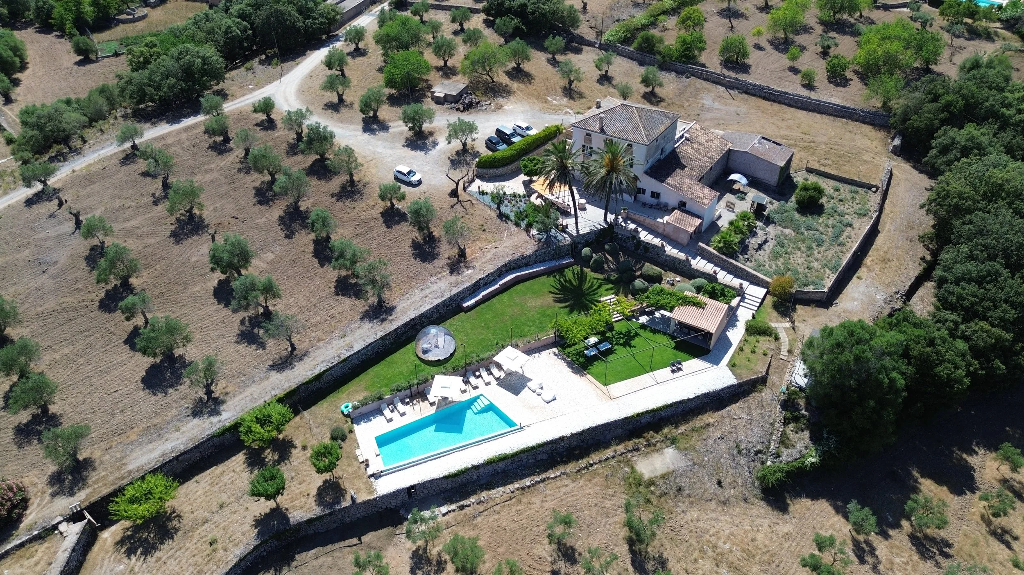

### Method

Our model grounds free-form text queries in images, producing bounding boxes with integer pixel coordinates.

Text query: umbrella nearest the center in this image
[493,340,530,375]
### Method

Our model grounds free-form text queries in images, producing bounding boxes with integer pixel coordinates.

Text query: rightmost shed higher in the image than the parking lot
[430,76,464,104]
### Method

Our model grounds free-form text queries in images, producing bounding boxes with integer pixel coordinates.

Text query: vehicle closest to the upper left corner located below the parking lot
[391,169,422,186]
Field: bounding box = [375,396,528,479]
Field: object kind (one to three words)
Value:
swimming pool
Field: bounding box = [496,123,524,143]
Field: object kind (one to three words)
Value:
car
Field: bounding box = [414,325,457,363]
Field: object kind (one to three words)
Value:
tent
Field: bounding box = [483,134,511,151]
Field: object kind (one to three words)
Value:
car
